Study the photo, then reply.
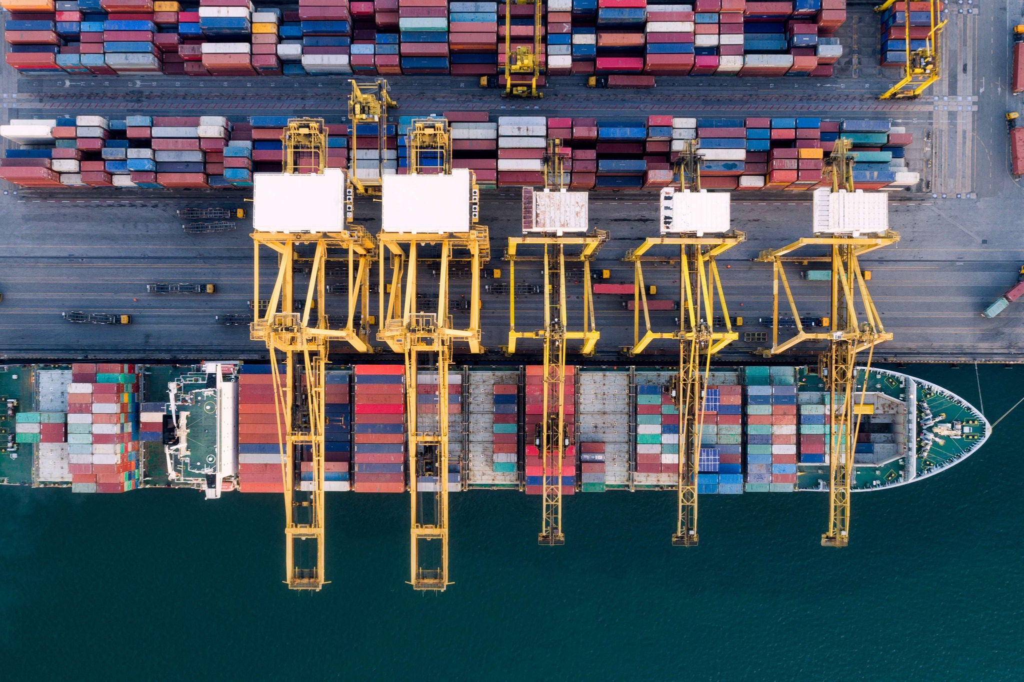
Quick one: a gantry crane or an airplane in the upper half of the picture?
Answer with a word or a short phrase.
gantry crane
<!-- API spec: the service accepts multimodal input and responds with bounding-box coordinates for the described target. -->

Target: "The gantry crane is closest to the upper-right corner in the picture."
[871,0,944,98]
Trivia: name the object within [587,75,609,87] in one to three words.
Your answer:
vehicle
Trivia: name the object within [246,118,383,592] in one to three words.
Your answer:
container crane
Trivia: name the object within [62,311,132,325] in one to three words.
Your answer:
vehicle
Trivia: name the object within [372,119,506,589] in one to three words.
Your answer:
container crane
